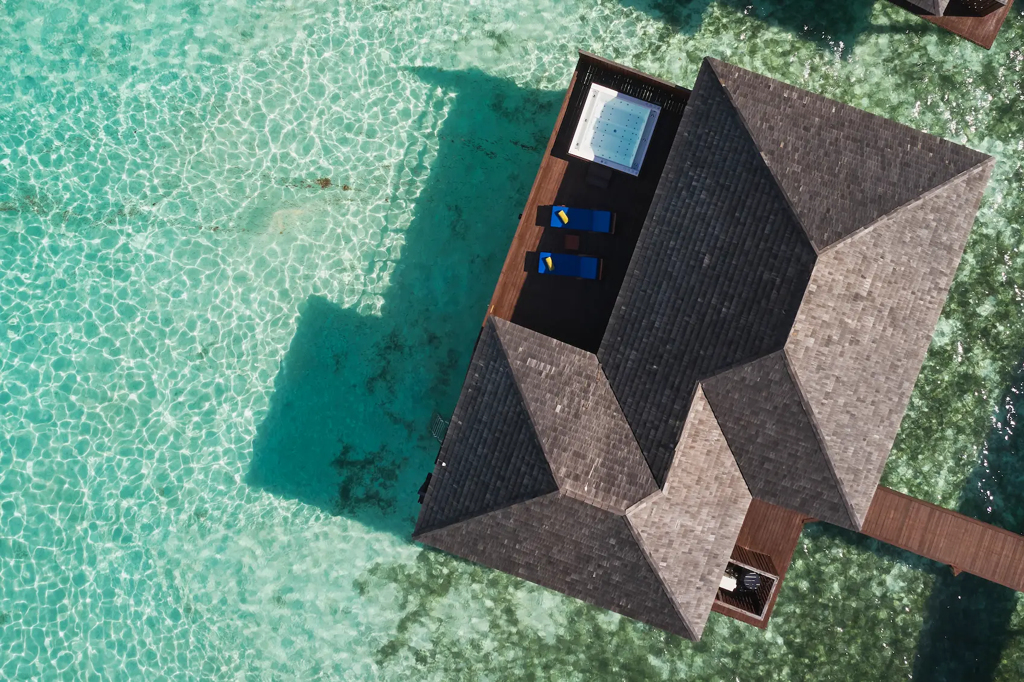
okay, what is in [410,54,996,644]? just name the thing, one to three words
house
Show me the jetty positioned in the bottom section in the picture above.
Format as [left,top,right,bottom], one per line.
[862,486,1024,592]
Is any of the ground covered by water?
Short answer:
Yes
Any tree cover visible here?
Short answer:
No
